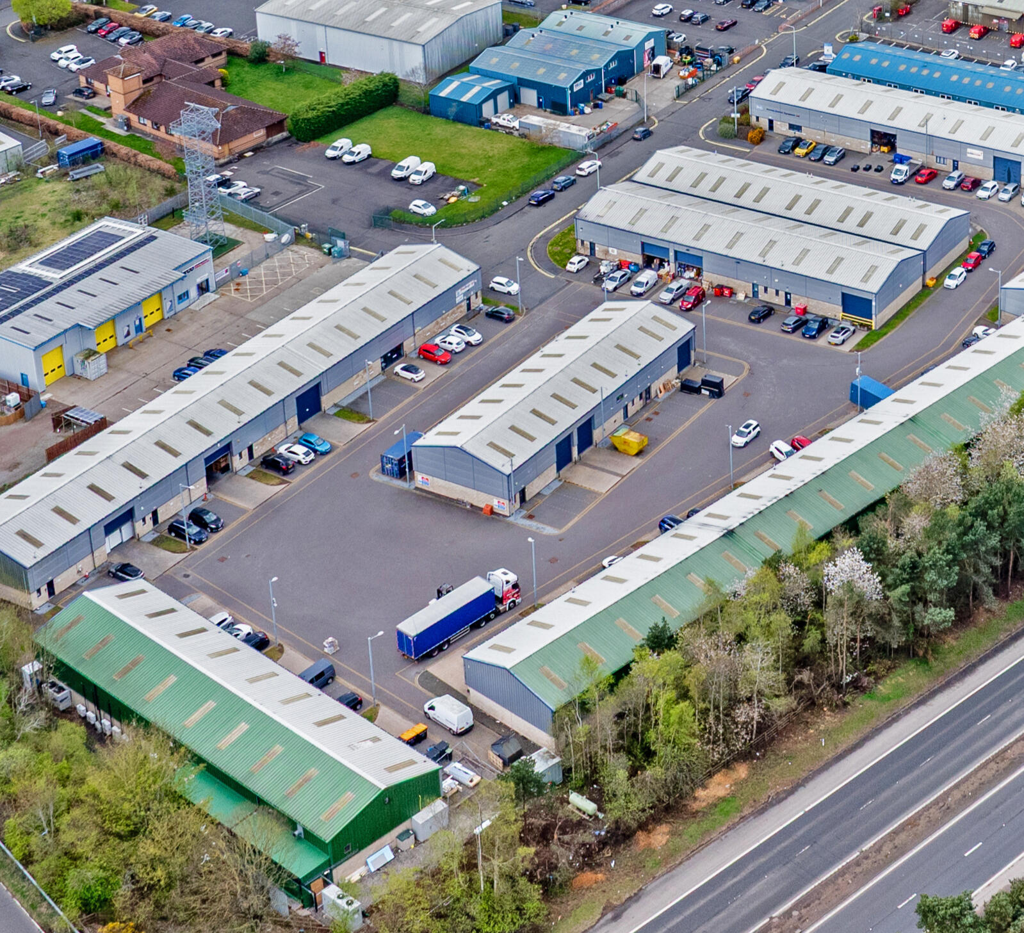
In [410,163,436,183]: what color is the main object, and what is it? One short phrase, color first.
white vehicle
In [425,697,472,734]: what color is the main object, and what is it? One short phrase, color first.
white van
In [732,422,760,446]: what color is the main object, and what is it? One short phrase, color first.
white car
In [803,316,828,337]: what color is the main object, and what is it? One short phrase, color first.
blue car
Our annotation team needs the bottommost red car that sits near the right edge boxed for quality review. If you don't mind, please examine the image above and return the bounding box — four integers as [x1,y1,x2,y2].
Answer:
[960,251,984,271]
